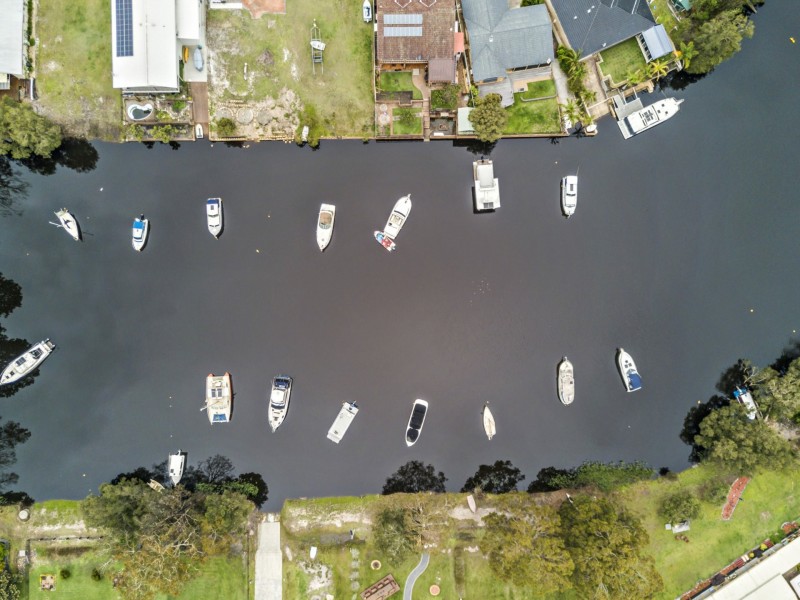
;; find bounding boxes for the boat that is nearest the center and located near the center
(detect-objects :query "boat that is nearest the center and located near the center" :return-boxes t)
[376,233,394,250]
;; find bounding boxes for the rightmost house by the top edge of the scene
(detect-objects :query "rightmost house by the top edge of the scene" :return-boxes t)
[545,0,656,61]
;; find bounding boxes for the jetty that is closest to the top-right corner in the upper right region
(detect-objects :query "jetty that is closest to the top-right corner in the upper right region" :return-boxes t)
[613,87,647,120]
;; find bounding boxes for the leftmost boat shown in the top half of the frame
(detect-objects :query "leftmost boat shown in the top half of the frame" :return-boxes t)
[52,209,80,240]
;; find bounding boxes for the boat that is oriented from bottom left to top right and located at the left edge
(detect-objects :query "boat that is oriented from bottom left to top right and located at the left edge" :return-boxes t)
[0,339,61,384]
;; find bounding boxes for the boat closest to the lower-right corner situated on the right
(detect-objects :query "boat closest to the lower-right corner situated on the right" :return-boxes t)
[734,390,757,418]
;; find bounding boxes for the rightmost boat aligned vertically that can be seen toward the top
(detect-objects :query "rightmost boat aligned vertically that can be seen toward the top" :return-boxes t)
[562,168,578,217]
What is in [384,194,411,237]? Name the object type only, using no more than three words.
boat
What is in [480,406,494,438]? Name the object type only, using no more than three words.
boat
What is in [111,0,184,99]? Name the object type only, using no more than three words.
house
